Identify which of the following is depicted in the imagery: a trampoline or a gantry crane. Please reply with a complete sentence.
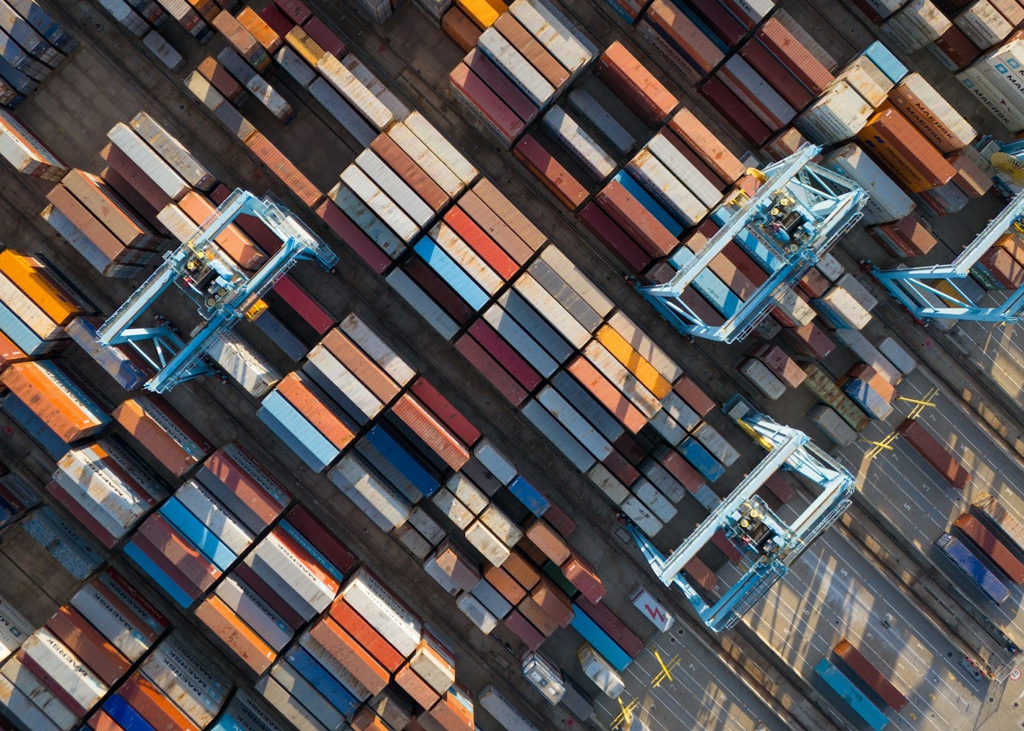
Looking from above, you can make out a gantry crane.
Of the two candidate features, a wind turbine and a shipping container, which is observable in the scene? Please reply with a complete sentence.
The one in the frame is a shipping container.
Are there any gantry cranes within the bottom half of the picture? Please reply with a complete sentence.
Yes, there is a gantry crane within the bottom half of the picture.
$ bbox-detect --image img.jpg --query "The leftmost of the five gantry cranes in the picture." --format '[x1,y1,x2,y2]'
[94,177,346,392]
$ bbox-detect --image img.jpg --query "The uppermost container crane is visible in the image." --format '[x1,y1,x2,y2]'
[978,129,1024,176]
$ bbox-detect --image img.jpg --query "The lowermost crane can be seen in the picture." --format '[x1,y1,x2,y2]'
[619,398,860,631]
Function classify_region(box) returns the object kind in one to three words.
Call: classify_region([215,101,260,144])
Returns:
shipping container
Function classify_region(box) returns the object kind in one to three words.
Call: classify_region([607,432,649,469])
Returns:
shipping container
